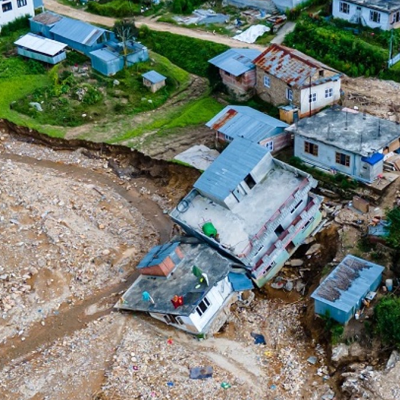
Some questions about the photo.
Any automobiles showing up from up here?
No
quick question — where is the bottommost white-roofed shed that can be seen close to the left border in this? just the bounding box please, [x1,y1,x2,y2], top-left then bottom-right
[5,36,71,63]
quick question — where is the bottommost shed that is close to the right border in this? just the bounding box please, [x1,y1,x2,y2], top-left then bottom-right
[308,252,388,323]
